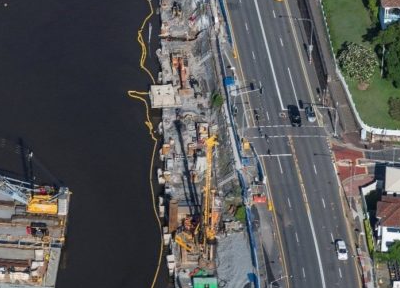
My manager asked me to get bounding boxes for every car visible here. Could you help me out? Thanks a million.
[306,108,317,122]
[288,108,302,127]
[334,242,348,260]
